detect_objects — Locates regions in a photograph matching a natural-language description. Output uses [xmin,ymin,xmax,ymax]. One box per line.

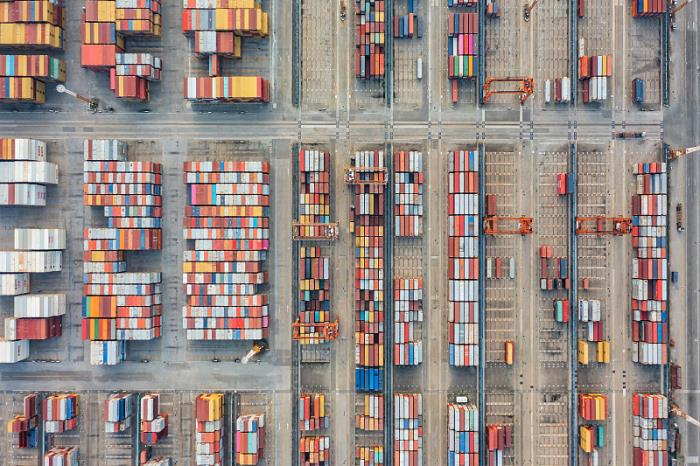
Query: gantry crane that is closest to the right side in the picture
[577,217,630,235]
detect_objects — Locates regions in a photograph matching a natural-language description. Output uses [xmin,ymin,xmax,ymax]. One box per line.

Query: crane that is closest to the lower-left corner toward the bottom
[293,315,340,340]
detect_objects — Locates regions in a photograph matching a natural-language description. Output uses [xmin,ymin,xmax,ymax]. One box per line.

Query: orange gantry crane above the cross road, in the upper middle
[485,78,537,105]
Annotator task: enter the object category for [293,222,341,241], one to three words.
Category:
container crane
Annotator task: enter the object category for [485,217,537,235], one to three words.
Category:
container crane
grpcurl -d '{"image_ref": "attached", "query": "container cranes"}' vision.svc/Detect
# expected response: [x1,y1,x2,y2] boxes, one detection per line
[485,217,537,235]
[293,315,340,340]
[577,217,630,235]
[485,78,537,105]
[343,167,389,189]
[293,222,341,241]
